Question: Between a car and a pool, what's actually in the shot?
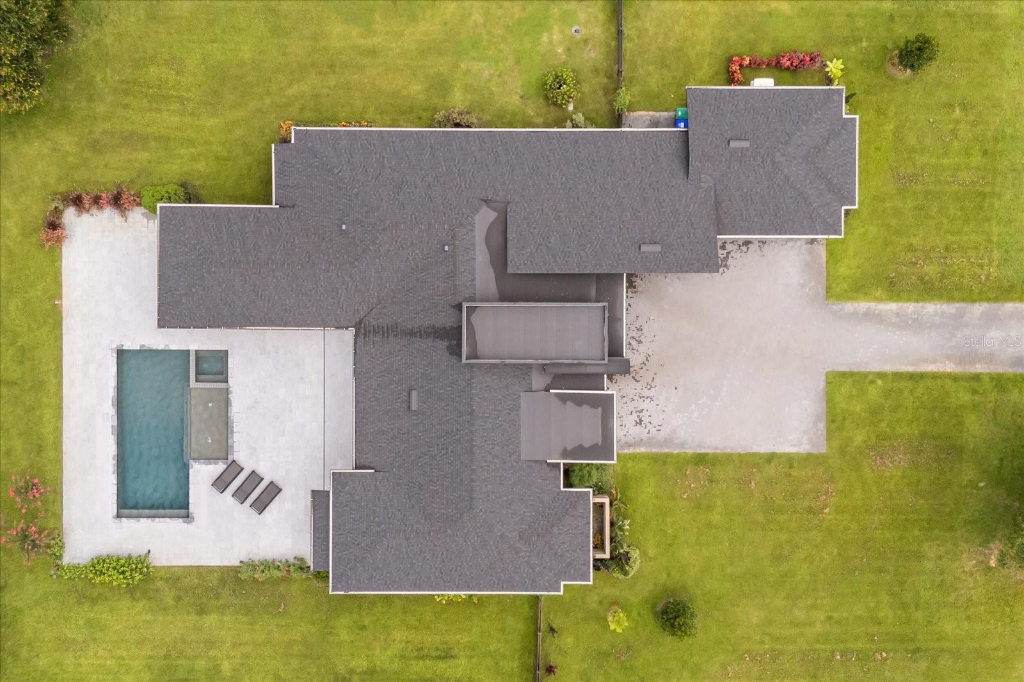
pool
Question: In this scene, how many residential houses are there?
one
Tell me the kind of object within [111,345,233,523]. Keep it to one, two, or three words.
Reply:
swimming pool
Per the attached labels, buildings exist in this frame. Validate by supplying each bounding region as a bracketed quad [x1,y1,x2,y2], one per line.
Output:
[157,86,859,594]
